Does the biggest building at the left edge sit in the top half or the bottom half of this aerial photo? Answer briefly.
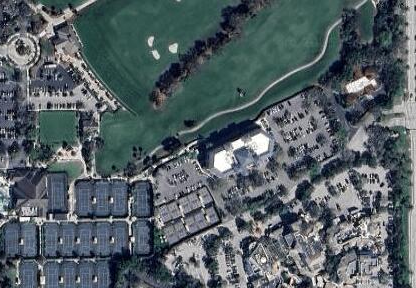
bottom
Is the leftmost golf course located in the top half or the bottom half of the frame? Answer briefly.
top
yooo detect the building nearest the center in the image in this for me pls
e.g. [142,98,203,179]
[209,127,270,173]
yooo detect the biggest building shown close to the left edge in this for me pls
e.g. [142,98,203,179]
[7,165,52,216]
